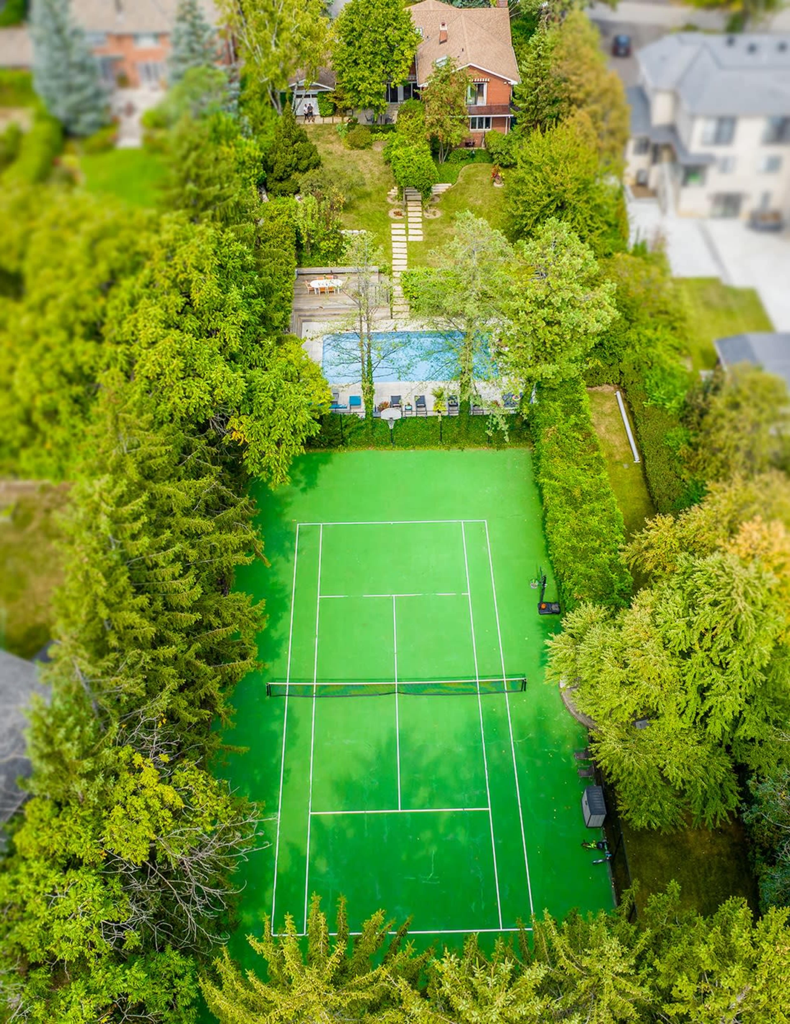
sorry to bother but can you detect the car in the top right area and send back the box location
[606,31,633,54]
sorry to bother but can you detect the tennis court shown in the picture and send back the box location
[203,448,622,1002]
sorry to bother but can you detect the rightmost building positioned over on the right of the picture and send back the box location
[710,342,790,411]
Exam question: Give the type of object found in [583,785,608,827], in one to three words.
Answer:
shed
